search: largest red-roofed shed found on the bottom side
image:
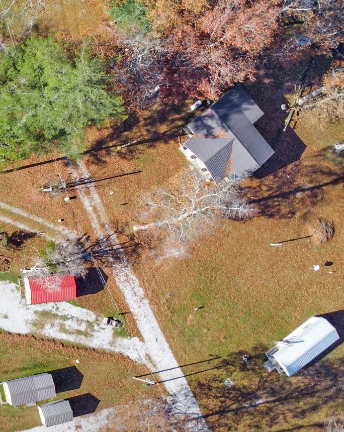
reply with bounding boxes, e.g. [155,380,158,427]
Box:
[24,275,76,304]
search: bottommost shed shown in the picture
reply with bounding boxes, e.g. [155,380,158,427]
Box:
[37,398,73,428]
